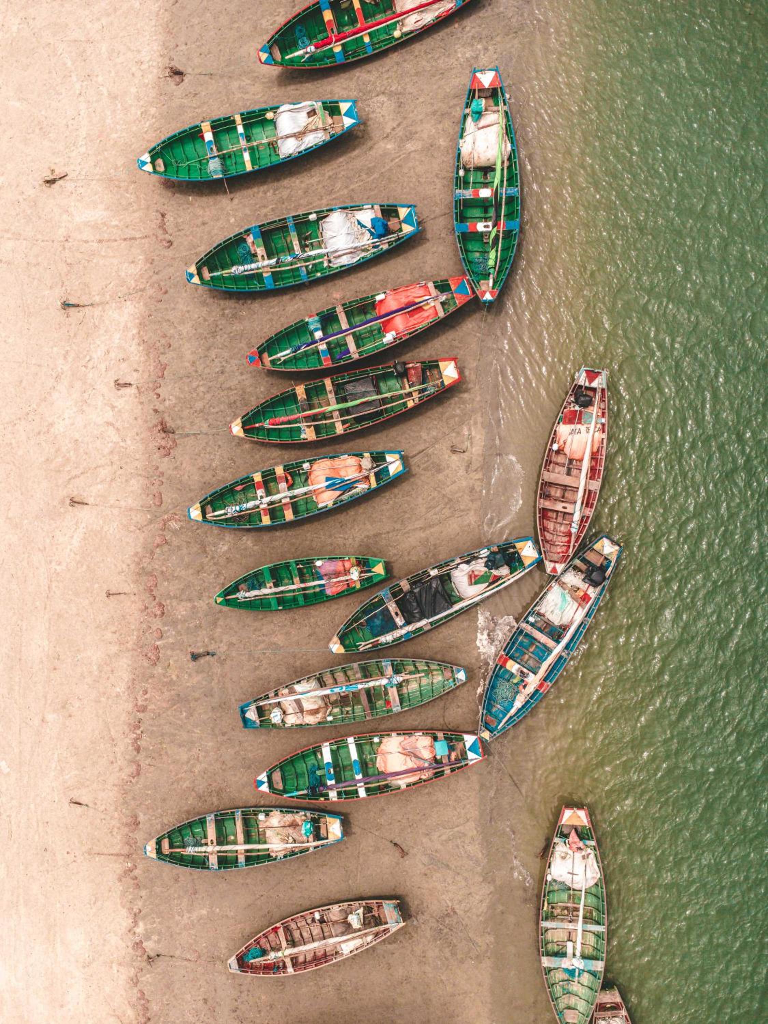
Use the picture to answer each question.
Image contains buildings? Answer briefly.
No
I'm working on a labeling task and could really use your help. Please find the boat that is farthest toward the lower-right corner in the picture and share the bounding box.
[590,984,631,1024]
